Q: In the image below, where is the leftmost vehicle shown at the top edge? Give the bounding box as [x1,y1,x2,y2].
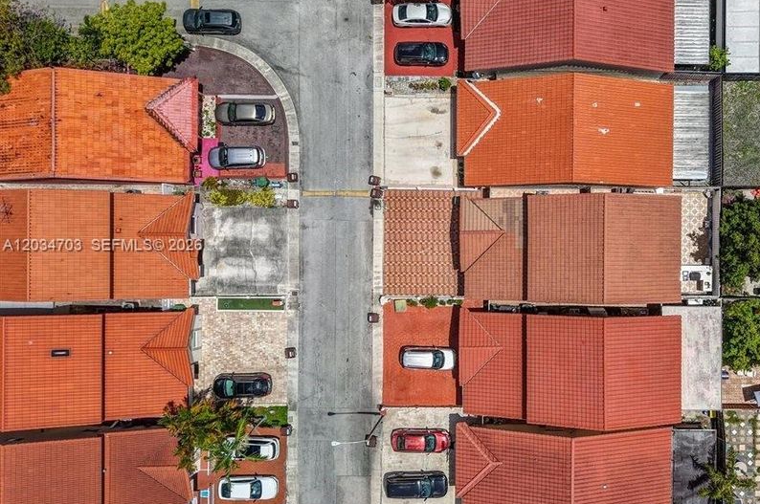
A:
[184,5,244,36]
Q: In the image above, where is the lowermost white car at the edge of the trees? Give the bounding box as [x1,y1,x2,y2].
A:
[218,473,280,503]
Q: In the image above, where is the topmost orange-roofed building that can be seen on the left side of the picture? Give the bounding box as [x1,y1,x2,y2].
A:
[0,66,205,184]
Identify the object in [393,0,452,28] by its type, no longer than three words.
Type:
car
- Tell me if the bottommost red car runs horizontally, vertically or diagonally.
horizontally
